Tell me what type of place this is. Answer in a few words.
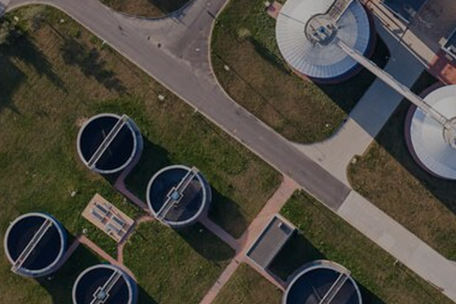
industrial area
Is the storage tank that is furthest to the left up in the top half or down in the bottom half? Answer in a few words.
bottom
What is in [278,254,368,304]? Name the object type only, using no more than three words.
storage tank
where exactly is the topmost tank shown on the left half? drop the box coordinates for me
[77,111,141,175]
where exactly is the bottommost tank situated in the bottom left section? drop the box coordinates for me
[72,260,137,304]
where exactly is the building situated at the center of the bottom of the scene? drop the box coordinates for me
[247,212,299,269]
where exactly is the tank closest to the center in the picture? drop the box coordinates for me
[145,162,211,226]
